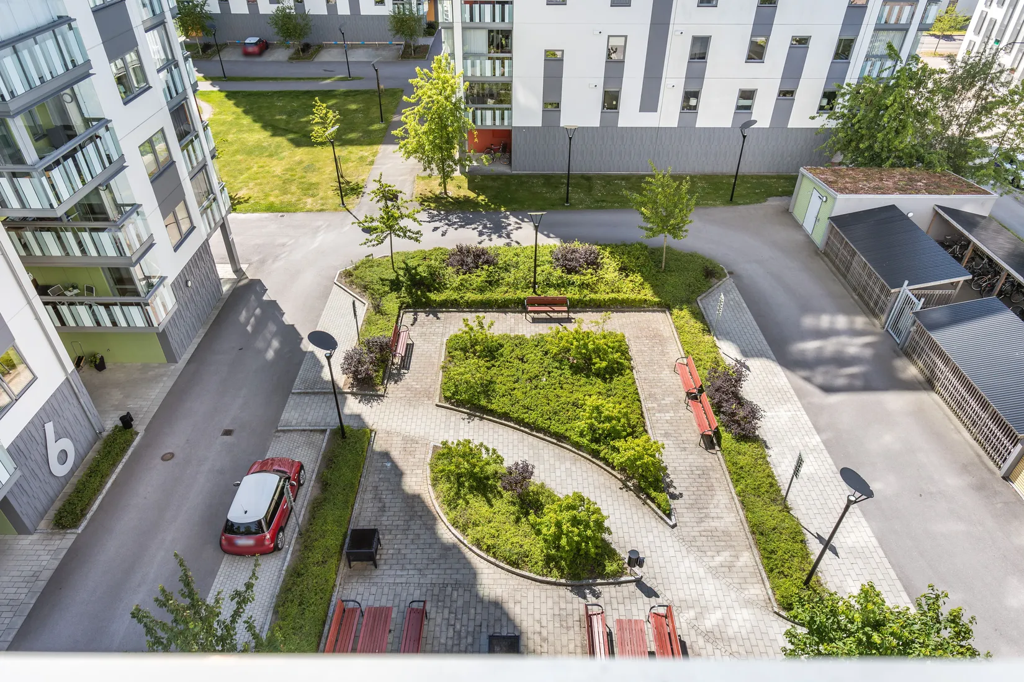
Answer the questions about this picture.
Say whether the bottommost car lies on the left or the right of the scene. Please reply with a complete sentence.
It is on the left.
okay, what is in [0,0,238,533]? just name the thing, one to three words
building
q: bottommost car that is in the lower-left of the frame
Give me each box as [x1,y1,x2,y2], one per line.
[216,459,305,564]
